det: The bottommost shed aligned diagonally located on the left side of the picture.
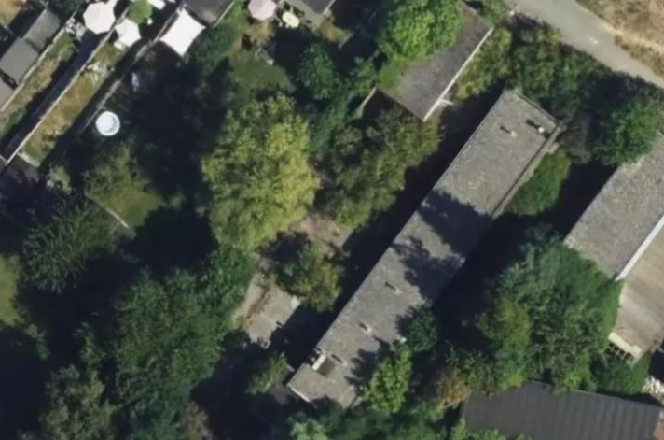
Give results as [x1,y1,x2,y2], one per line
[9,155,38,184]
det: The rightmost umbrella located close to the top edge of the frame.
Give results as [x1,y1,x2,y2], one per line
[248,0,276,21]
